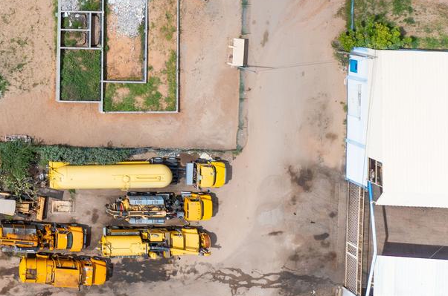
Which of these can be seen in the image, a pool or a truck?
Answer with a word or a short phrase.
truck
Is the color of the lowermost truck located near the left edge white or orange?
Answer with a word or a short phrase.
orange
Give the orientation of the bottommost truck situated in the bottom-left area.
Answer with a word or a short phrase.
horizontally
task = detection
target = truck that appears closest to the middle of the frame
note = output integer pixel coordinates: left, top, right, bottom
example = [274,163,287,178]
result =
[145,158,226,193]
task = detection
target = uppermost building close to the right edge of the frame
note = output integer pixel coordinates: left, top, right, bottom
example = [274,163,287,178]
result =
[360,49,448,209]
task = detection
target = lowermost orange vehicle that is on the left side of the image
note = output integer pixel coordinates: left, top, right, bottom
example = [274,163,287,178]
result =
[19,253,105,293]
